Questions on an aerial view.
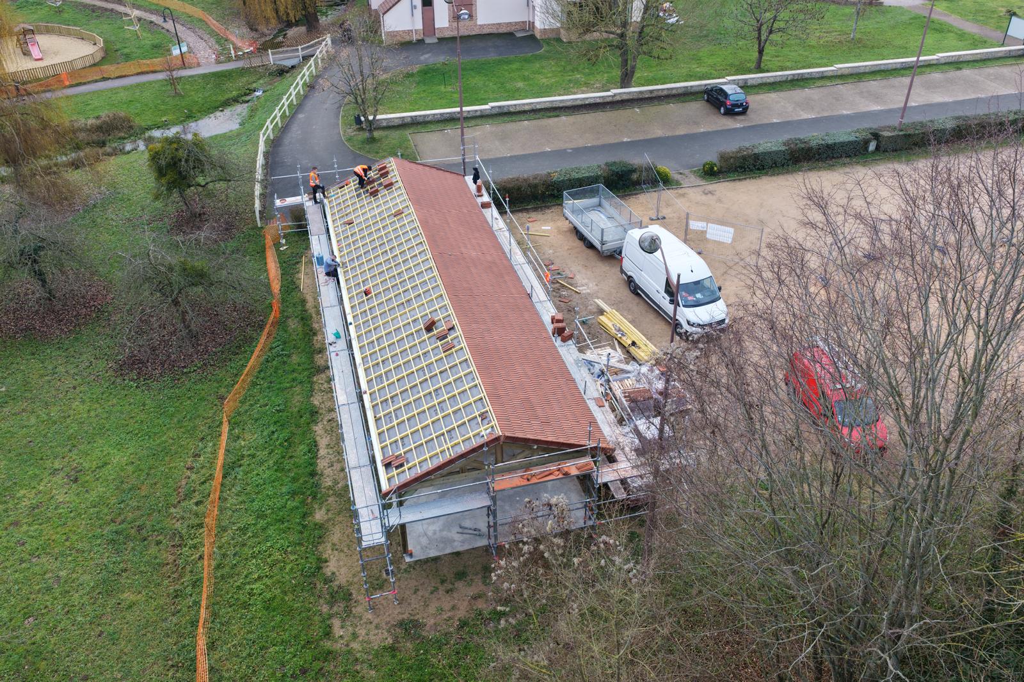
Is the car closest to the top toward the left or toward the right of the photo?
right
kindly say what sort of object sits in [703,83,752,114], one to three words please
car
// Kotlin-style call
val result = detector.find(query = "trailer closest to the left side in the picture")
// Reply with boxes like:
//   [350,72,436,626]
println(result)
[564,188,647,256]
